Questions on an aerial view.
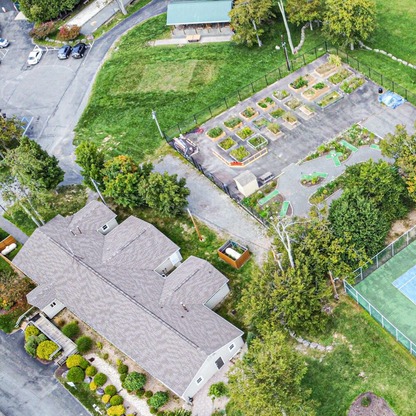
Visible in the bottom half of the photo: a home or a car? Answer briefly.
home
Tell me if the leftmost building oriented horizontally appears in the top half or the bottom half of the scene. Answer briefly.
top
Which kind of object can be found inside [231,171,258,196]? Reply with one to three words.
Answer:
shed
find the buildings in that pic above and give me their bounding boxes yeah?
[167,0,239,33]
[231,171,258,196]
[11,201,246,403]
